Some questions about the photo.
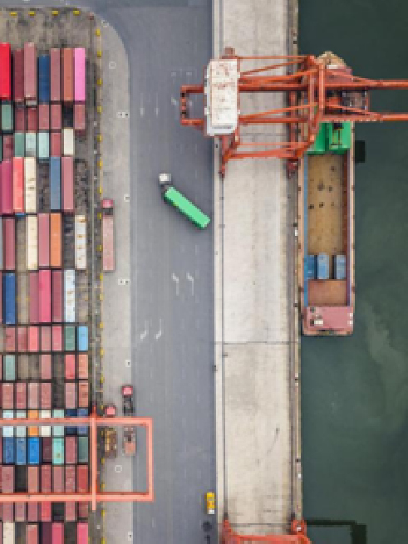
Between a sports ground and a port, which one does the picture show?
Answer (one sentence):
This looks like a port.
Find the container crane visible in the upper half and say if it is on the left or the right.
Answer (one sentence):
The container crane visible in the upper half sits on the right side.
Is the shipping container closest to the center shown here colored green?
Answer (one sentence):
Yes, the shipping container closest to the center is green.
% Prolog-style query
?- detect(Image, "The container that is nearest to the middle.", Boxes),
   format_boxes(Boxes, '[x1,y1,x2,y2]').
[164,187,211,231]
